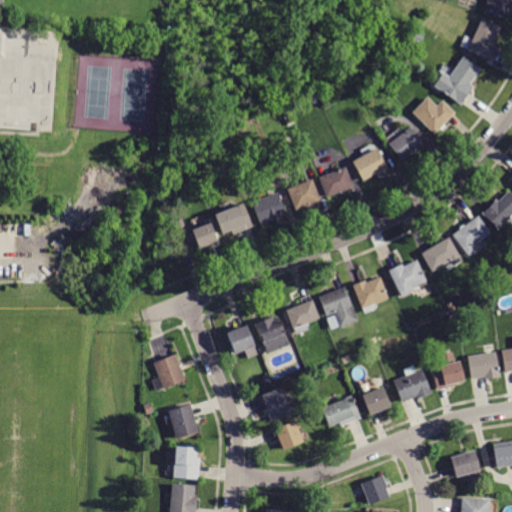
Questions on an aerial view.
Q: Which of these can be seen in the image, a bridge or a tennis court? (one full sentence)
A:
Of the two, only a tennis court appears.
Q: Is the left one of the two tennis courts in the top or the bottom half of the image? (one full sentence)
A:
You can find the left one of the two tennis courts in the top half.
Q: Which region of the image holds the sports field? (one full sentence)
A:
Look in the bottom left portion of the view to spot the sports field.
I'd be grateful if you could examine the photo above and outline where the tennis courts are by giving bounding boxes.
[74,56,118,130]
[114,58,156,132]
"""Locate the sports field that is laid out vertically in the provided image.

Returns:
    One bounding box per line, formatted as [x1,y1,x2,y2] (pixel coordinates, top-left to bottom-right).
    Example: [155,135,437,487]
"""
[0,309,86,512]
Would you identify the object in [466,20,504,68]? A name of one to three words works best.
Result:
house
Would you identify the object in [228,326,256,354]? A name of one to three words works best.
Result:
house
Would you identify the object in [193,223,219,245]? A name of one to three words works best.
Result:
building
